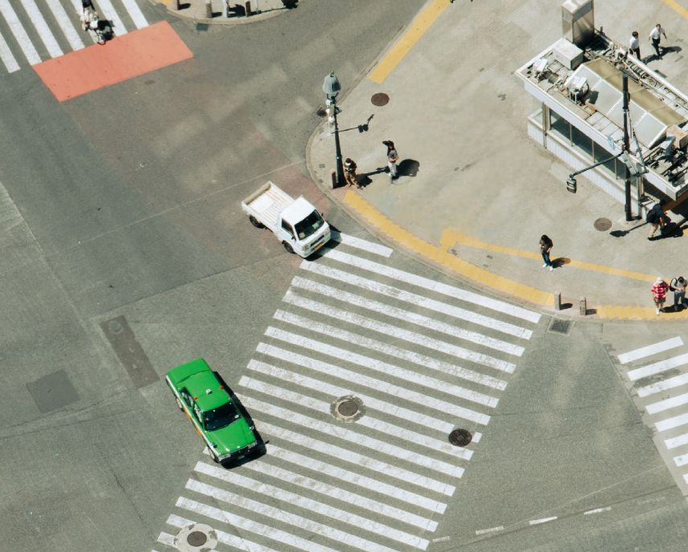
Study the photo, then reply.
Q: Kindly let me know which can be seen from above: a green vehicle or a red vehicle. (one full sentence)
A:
I can see a green vehicle in this picture.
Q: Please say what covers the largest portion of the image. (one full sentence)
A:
The largest share of the image is taken up by paved ground.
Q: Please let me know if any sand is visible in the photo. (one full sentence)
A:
No, there is no sand in the image.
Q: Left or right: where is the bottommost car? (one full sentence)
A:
The bottommost car appears in the left half of the scene.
